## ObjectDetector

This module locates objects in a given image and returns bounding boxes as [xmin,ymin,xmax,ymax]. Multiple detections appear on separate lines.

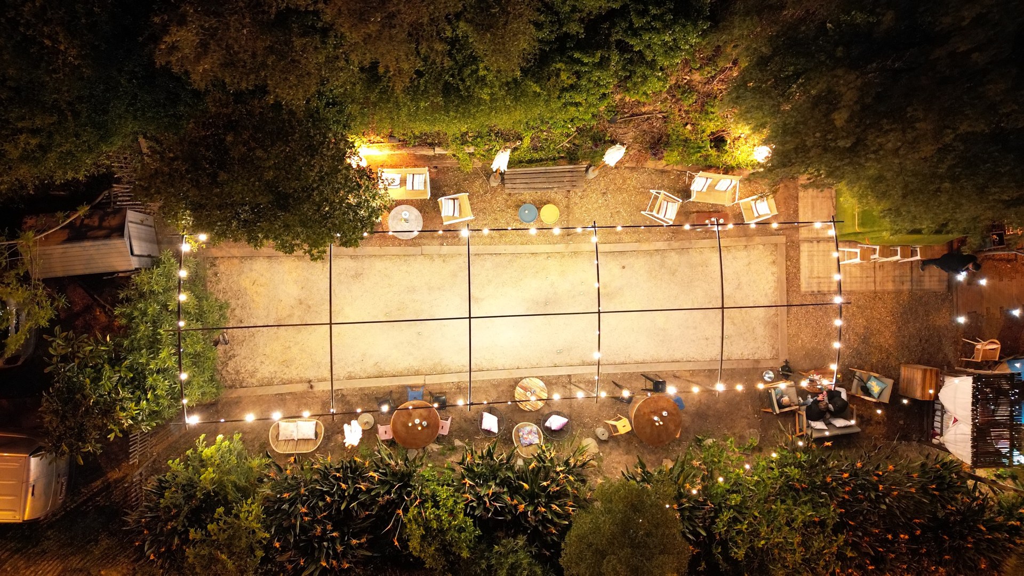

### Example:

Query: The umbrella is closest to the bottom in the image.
[348,413,374,450]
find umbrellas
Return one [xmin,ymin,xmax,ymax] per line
[586,140,627,177]
[348,413,374,450]
[490,140,518,187]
